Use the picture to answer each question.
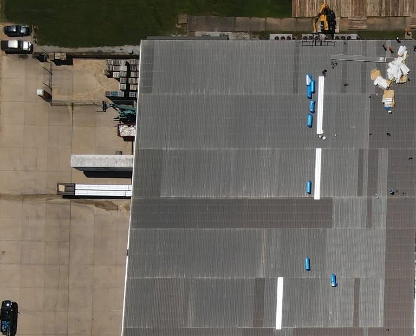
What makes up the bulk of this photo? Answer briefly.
buildings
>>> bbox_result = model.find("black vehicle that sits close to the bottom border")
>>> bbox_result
[0,301,18,336]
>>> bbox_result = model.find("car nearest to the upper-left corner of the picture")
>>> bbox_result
[4,24,31,37]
